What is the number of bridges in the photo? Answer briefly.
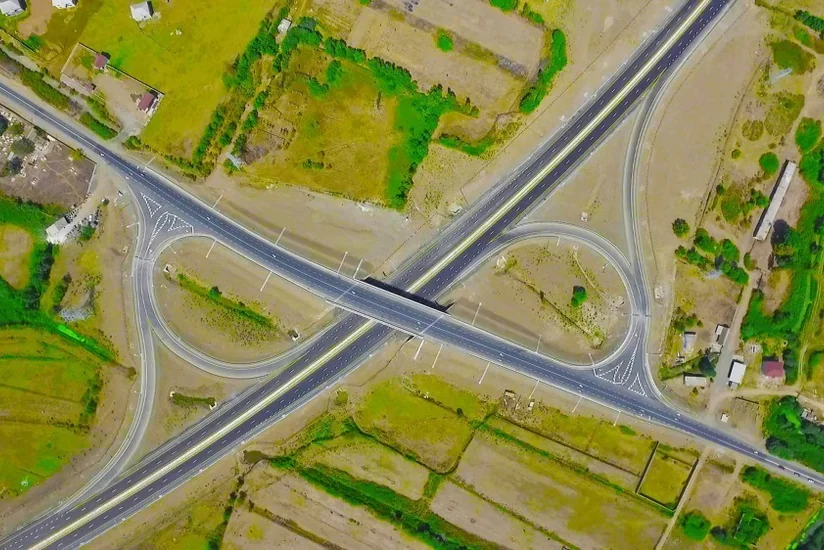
1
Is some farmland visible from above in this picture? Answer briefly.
Yes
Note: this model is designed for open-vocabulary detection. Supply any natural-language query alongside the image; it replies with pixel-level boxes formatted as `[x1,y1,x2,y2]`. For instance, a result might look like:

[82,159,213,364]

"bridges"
[326,279,450,339]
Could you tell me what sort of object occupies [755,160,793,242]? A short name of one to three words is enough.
barn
